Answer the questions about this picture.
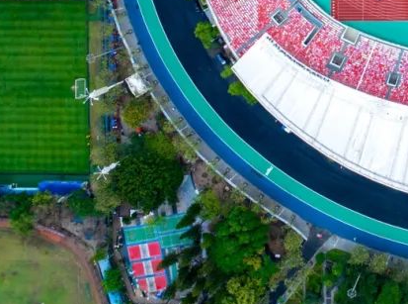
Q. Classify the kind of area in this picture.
sports ground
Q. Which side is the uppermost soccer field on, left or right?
left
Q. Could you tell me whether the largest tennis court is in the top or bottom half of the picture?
bottom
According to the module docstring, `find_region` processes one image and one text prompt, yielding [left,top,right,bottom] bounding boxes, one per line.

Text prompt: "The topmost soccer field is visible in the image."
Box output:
[0,0,100,184]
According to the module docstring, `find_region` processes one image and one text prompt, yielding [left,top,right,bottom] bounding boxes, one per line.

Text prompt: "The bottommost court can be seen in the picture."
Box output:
[136,274,170,294]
